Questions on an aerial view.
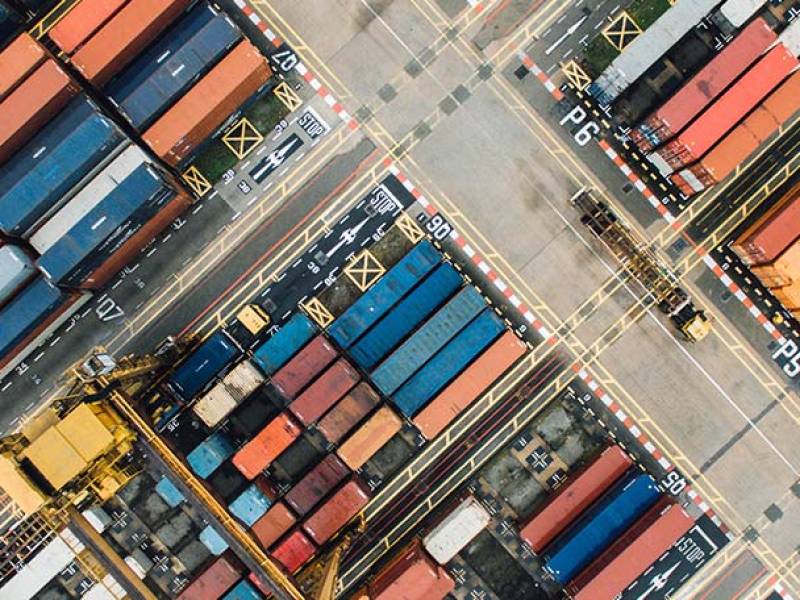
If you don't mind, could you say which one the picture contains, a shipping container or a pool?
shipping container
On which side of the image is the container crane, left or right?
left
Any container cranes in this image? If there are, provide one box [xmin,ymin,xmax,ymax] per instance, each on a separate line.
[0,320,368,600]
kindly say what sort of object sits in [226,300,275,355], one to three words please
truck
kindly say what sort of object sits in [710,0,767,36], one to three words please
shipping container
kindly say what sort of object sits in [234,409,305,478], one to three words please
shipping container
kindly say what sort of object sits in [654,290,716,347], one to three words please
truck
